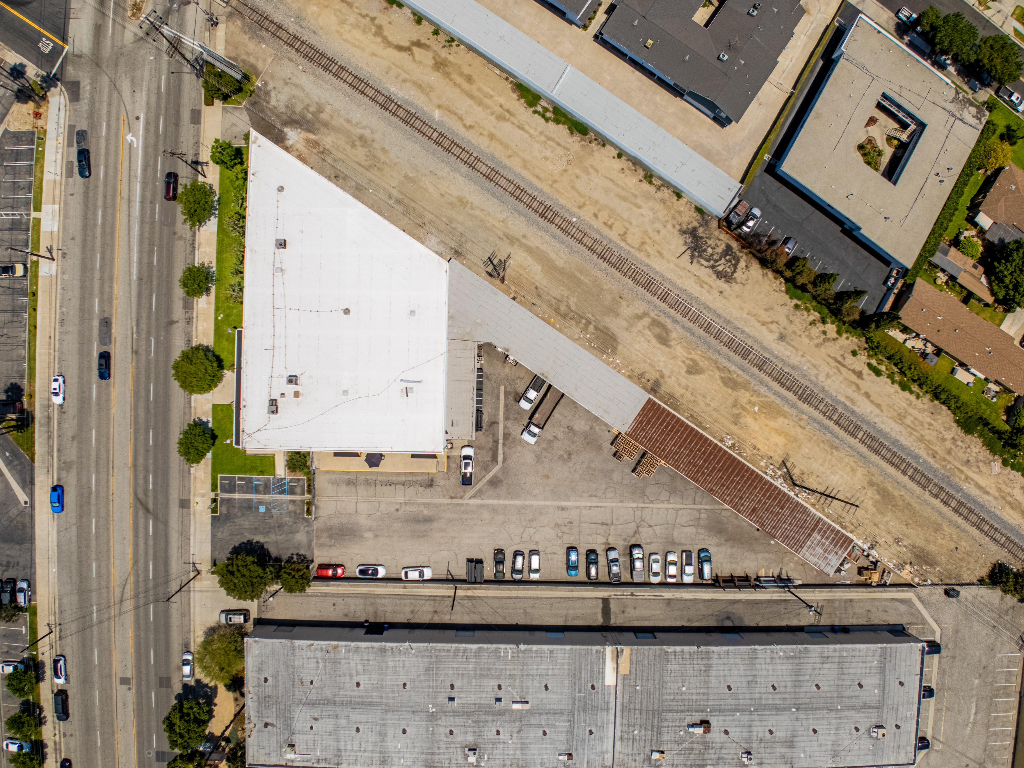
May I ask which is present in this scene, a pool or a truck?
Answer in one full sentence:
Looking from above, you can make out a truck.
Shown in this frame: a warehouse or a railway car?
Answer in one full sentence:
The one in the frame is a warehouse.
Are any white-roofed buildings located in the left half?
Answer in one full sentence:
Yes, a white-roofed building is visible in the left half.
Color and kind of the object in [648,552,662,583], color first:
white car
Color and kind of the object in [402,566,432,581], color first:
white car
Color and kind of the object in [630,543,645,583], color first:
gray vehicle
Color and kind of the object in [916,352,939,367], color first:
gray gazebo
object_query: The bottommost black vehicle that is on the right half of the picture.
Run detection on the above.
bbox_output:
[916,735,930,750]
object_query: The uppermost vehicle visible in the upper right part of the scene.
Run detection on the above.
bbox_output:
[892,0,922,31]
